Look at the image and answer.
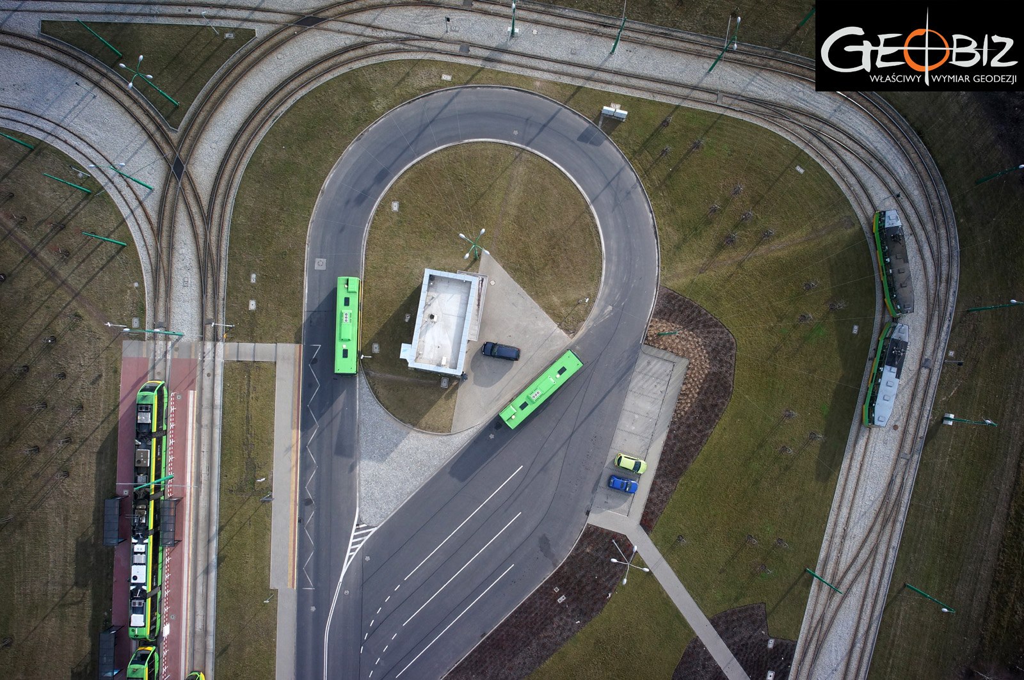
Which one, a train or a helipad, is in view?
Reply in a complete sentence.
It is a train that can be seen here.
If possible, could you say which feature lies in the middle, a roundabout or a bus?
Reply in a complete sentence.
The feature located in the middle is a bus.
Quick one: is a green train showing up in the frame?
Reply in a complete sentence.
Yes, this view includes a green train.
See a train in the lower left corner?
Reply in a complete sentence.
Yes, a train appears in the lower left corner.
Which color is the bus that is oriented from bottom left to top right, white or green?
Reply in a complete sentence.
From above, the bus that is oriented from bottom left to top right appears green.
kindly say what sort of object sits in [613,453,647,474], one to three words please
car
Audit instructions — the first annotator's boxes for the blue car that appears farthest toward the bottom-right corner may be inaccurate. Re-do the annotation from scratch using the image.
[607,475,638,494]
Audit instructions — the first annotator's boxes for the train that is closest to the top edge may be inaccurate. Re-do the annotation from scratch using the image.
[871,209,910,319]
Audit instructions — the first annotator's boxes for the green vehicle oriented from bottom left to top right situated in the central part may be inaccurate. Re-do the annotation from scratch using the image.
[499,346,586,428]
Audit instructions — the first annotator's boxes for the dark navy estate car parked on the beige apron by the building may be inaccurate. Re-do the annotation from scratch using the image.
[482,340,521,360]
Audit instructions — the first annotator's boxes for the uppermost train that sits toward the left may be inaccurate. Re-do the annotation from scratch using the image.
[128,382,167,648]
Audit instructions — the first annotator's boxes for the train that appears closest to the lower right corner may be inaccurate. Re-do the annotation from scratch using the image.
[861,321,911,429]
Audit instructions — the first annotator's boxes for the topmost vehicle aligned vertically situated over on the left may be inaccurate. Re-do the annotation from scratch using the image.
[334,277,362,378]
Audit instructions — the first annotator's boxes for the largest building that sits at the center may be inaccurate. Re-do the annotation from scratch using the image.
[401,269,490,375]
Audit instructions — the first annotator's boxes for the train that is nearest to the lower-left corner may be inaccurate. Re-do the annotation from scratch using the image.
[128,645,159,680]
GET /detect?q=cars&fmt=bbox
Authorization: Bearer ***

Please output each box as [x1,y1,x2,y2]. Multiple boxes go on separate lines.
[613,453,647,474]
[482,340,521,360]
[607,475,638,494]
